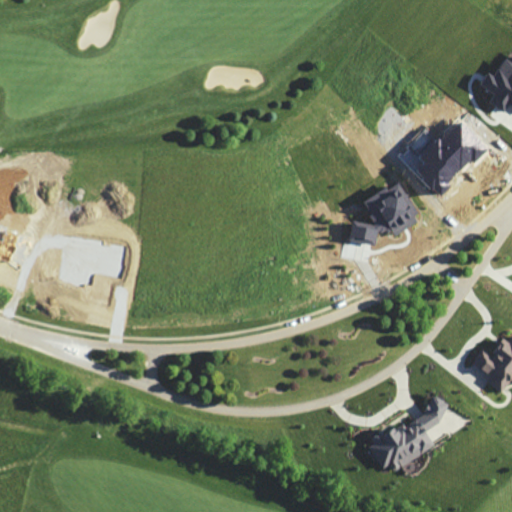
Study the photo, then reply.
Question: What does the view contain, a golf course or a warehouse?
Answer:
golf course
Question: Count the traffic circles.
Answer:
0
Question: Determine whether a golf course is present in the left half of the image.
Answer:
Yes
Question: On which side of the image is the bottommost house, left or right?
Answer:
right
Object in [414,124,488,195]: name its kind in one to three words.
house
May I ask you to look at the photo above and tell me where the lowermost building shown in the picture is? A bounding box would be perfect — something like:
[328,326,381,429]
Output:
[373,392,454,472]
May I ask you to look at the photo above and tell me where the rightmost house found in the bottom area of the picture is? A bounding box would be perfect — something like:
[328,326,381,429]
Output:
[474,332,512,397]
